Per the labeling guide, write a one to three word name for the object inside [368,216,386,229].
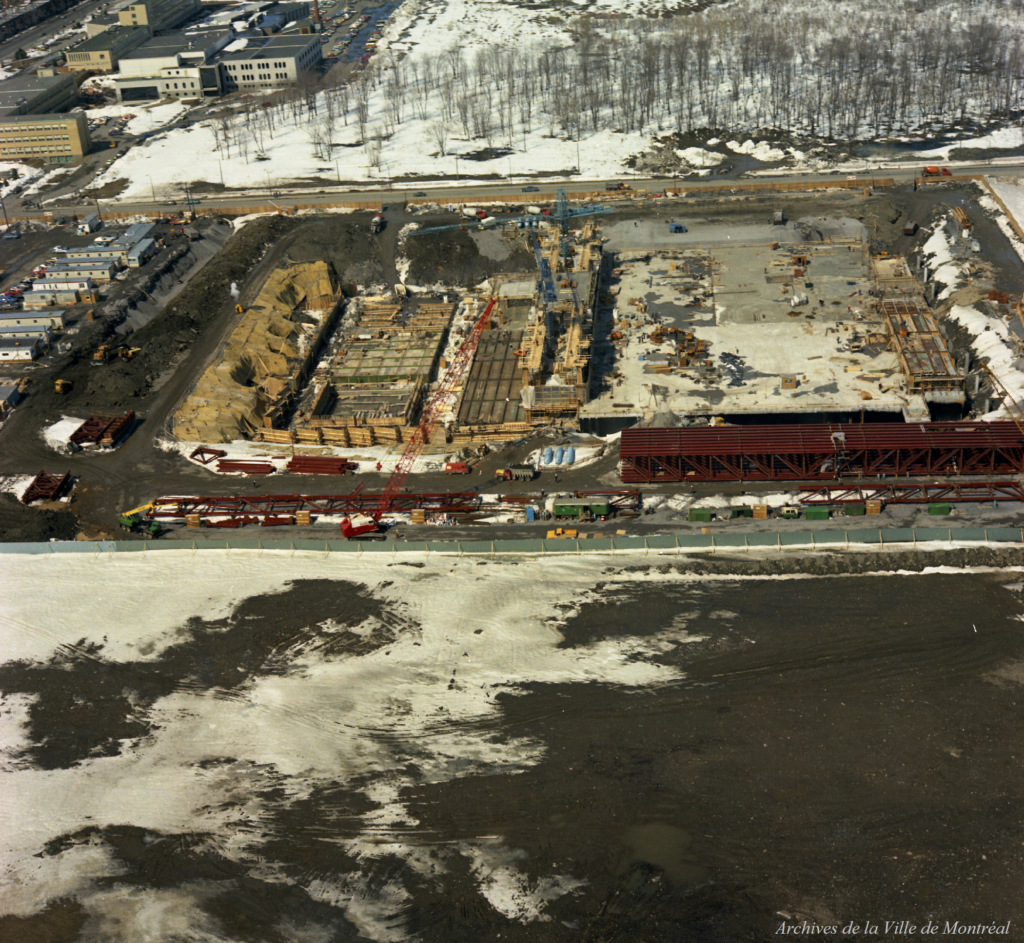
vehicle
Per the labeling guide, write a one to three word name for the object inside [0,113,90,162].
building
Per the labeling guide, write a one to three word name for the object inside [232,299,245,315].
vehicle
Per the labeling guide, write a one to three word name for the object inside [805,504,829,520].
shed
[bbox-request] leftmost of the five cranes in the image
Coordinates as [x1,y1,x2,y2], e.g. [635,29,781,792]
[111,497,179,537]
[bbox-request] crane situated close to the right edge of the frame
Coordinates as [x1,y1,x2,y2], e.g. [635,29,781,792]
[980,362,1024,432]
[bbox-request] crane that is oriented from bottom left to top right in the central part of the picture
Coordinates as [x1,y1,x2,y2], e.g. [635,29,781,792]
[339,295,503,541]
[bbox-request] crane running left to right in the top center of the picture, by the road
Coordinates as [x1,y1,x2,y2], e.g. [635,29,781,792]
[401,182,612,260]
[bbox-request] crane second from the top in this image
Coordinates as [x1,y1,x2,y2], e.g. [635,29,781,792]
[529,225,555,355]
